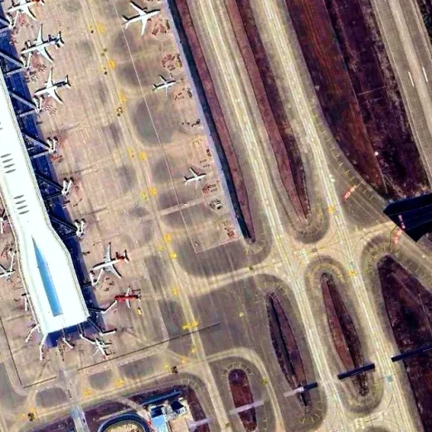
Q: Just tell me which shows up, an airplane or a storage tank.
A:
airplane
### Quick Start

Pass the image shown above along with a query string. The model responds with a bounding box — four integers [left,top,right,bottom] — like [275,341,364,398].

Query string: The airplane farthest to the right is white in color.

[182,169,205,189]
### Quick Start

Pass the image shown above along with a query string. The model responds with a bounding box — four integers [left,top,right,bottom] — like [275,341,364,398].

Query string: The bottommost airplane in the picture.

[92,339,111,360]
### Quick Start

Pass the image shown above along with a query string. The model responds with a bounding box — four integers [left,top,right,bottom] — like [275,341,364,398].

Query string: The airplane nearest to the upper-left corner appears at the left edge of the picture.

[7,0,43,20]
